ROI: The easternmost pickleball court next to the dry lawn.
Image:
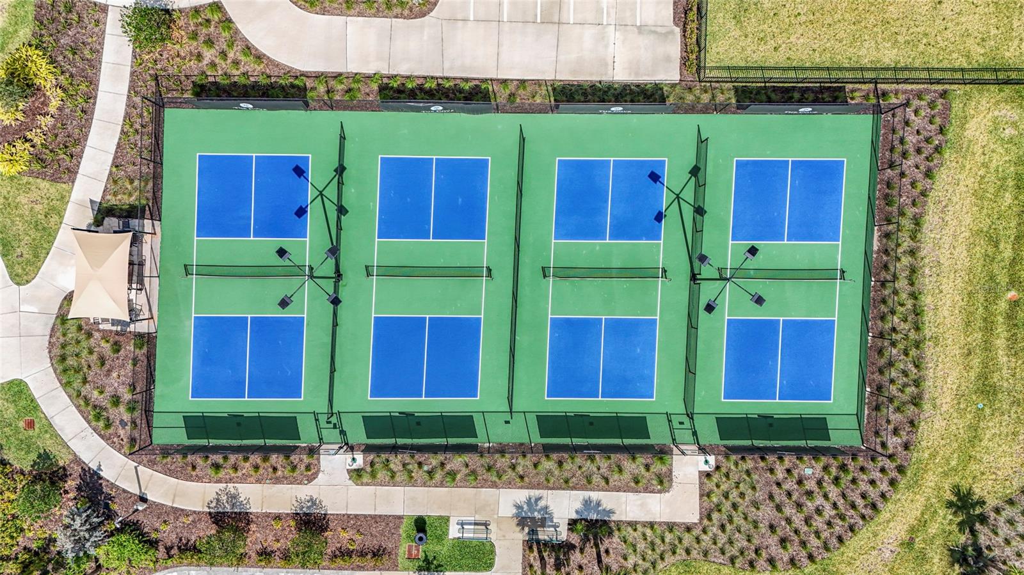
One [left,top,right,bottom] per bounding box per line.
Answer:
[687,114,882,446]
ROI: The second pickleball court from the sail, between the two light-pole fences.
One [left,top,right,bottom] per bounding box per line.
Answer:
[331,111,525,444]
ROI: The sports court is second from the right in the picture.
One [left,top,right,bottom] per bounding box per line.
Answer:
[510,113,703,445]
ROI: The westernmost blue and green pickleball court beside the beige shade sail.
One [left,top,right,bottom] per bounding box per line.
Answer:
[153,108,344,444]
